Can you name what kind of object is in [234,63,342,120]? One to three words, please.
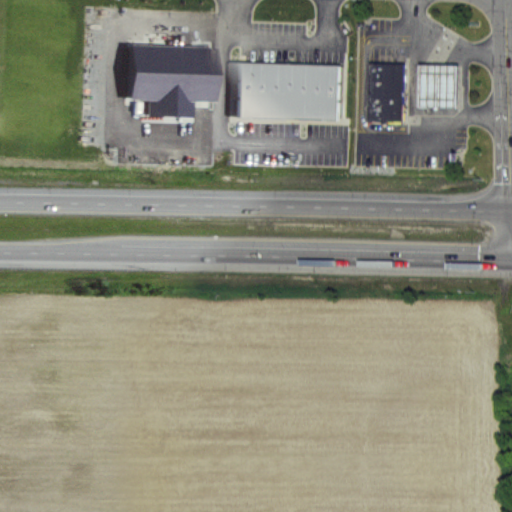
building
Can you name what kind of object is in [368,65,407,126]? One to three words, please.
building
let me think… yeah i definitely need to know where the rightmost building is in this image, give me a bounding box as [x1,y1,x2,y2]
[416,64,458,110]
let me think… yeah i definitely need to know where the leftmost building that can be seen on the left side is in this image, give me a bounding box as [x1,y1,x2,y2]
[128,46,222,116]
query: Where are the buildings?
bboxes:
[234,63,342,120]
[368,65,407,126]
[128,46,222,116]
[416,64,458,110]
